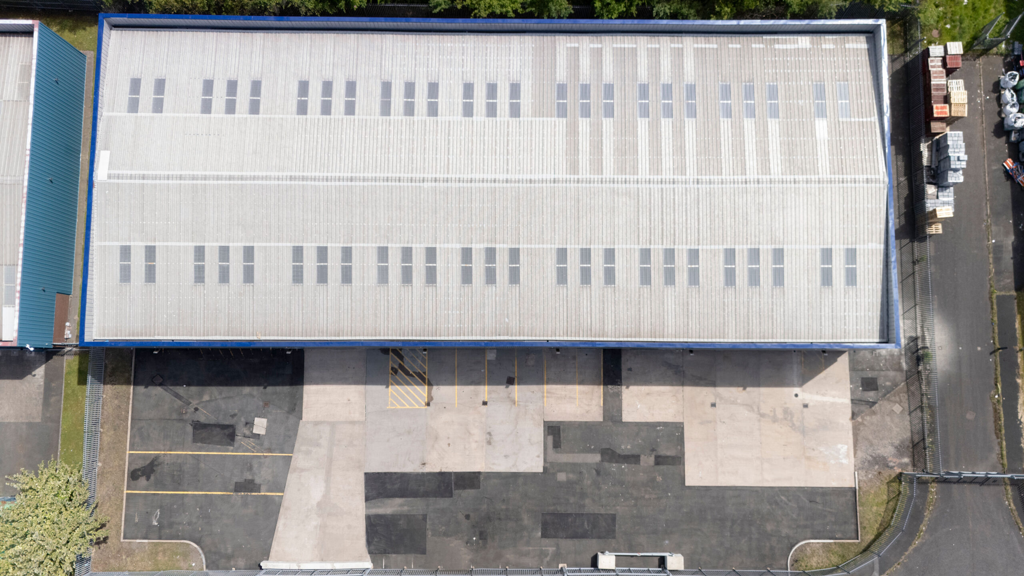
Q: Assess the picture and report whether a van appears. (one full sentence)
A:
No, the picture doesn't show any van.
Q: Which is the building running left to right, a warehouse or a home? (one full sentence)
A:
I'd identify the building running left to right as a warehouse.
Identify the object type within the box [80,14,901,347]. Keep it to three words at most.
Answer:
warehouse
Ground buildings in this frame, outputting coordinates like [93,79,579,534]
[0,21,87,347]
[80,14,901,347]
